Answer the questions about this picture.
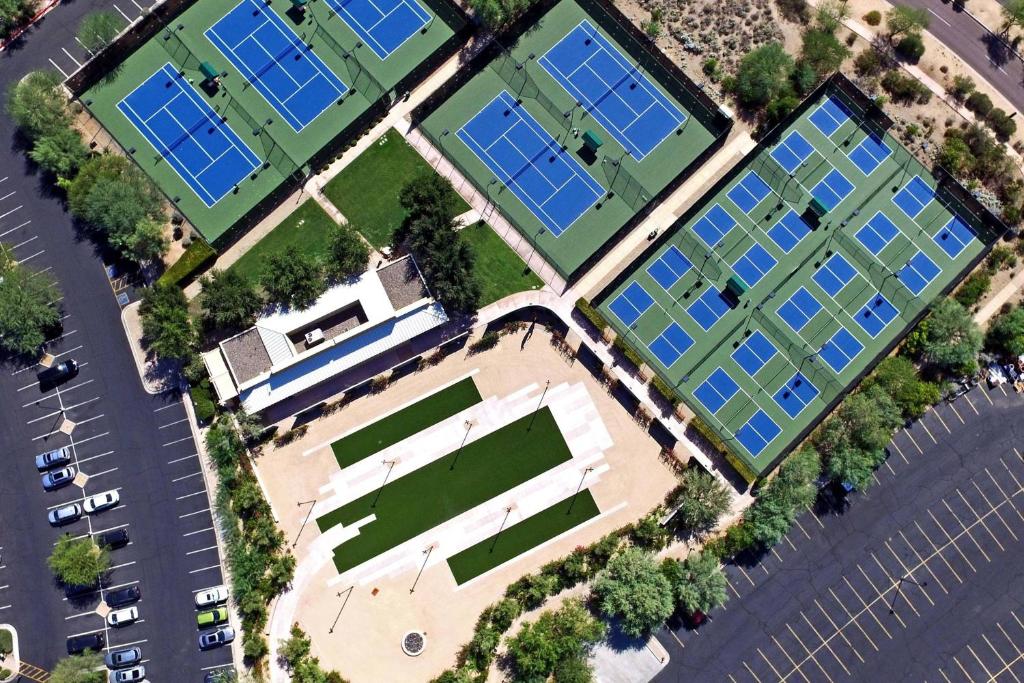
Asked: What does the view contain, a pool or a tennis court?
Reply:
tennis court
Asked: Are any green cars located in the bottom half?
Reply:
Yes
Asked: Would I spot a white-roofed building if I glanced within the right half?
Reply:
No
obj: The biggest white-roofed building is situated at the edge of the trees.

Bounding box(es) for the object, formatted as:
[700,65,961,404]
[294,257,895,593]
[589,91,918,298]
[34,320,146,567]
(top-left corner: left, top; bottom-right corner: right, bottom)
[219,254,449,415]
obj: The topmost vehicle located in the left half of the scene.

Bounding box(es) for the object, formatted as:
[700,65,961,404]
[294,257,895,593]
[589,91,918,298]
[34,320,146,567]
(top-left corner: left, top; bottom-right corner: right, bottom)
[37,365,76,389]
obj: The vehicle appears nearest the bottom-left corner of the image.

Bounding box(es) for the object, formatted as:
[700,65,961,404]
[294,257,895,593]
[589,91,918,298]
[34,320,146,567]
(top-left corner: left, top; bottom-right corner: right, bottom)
[70,632,104,653]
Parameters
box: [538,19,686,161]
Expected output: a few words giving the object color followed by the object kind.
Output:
blue tennis court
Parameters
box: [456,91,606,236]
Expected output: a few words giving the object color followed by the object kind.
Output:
blue tennis court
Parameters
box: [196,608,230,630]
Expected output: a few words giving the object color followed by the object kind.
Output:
green car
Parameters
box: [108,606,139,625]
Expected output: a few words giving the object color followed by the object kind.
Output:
white car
